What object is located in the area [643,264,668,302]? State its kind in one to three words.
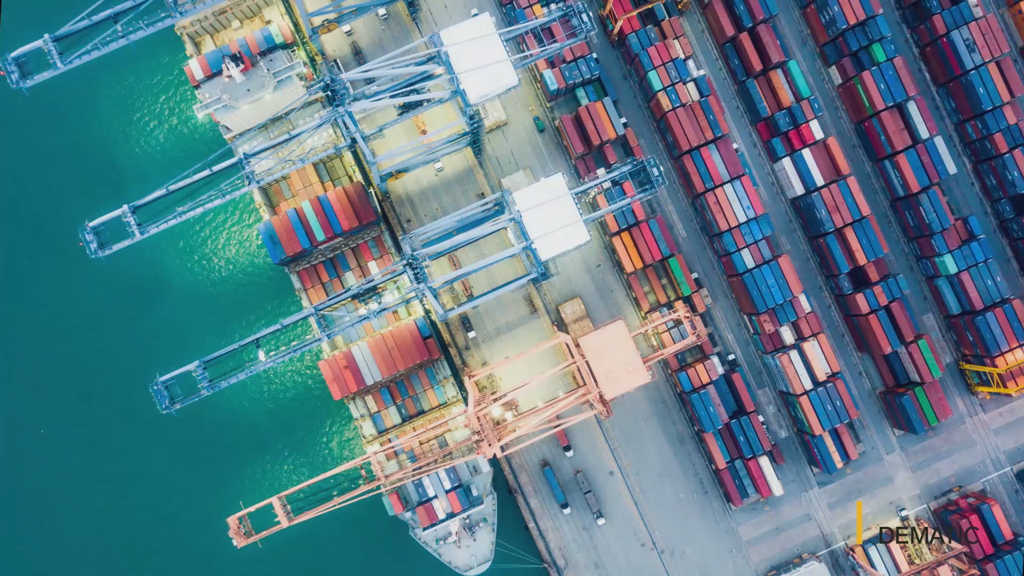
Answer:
shipping container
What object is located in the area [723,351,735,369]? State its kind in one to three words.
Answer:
vehicle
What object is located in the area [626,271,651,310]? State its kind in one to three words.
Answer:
shipping container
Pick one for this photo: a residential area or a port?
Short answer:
port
